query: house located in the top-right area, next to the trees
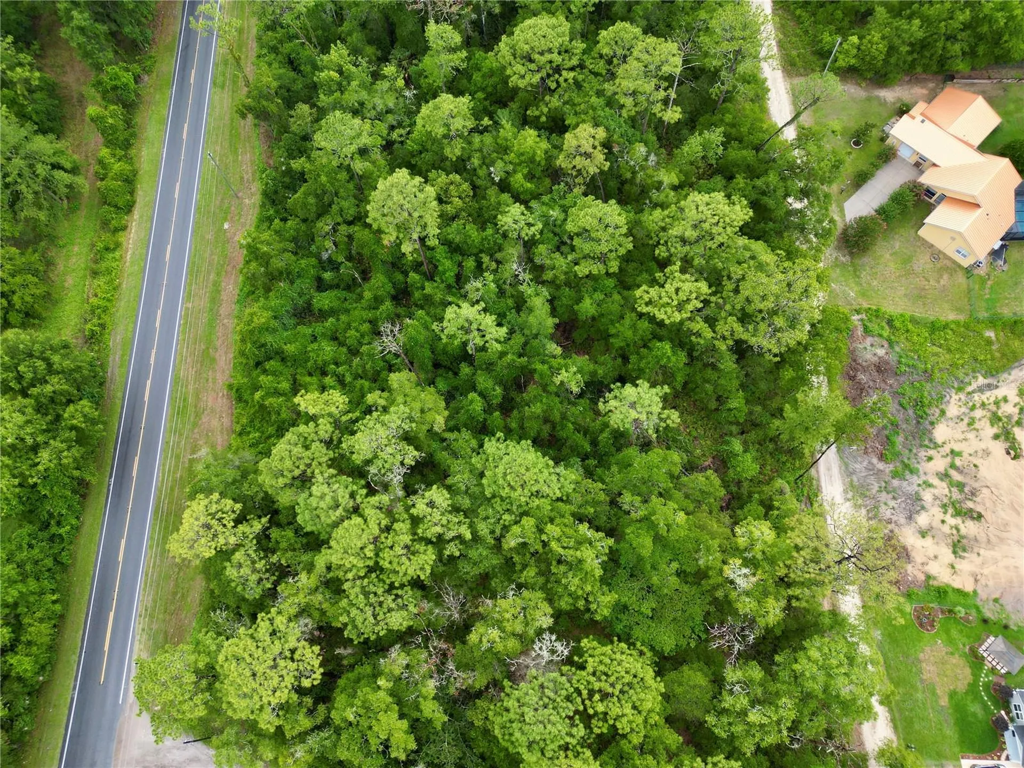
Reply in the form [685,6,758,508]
[886,87,1024,267]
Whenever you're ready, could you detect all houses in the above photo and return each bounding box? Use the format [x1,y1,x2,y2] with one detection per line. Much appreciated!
[1004,689,1024,768]
[886,87,1024,267]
